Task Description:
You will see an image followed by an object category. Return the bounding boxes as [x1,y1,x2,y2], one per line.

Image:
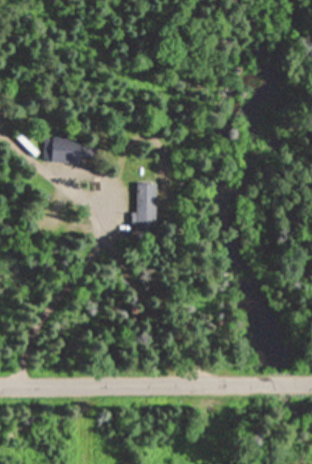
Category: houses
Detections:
[132,182,158,222]
[52,136,94,164]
